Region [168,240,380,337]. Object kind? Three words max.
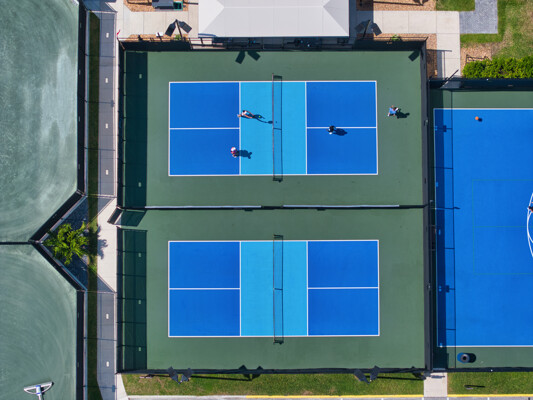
sports court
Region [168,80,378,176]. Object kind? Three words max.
sports court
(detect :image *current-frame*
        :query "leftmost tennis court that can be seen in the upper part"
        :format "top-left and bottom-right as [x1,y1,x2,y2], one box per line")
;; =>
[0,0,82,240]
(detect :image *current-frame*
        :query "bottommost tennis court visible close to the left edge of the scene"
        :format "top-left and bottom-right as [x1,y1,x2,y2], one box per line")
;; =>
[0,242,80,400]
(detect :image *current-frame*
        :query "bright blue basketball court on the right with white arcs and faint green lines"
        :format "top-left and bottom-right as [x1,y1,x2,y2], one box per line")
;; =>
[433,108,533,347]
